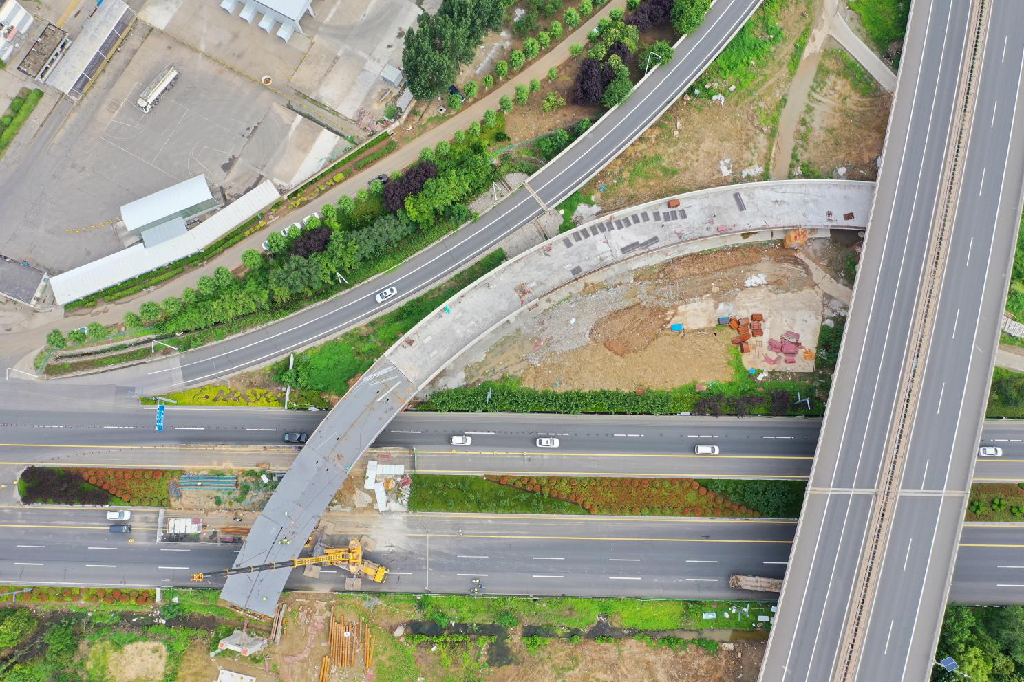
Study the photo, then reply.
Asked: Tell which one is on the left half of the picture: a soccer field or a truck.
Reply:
truck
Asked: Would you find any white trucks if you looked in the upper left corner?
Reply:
Yes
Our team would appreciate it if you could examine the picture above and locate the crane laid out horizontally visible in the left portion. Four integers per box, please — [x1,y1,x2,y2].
[192,525,390,588]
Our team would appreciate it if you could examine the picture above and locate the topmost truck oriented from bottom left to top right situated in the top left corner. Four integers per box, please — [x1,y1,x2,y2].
[138,64,177,109]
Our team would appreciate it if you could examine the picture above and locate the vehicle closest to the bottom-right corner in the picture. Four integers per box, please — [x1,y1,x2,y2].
[978,446,1002,458]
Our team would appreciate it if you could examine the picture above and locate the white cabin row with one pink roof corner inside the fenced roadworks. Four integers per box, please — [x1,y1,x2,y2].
[168,517,209,534]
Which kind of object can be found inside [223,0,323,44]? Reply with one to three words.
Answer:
building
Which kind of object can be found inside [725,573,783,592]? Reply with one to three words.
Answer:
vehicle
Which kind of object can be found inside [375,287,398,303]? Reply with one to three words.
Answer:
car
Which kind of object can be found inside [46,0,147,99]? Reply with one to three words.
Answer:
shed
